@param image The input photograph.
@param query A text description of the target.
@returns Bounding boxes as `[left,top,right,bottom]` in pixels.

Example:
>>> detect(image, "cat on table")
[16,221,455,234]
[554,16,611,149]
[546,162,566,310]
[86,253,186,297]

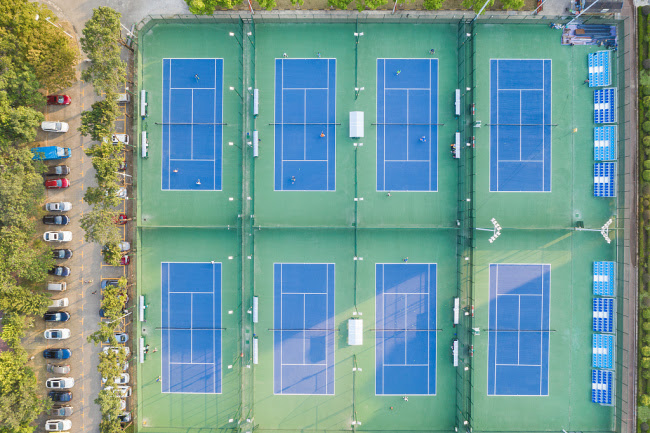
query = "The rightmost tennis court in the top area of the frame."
[474,23,616,228]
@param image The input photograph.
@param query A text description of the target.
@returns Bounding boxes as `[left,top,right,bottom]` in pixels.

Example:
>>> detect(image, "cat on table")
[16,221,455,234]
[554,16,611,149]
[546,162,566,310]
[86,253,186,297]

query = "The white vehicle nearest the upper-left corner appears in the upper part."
[41,119,71,133]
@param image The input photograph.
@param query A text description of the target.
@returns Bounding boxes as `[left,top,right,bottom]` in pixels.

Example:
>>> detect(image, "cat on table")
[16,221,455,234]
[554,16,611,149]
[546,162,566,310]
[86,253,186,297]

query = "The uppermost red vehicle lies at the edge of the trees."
[46,94,74,106]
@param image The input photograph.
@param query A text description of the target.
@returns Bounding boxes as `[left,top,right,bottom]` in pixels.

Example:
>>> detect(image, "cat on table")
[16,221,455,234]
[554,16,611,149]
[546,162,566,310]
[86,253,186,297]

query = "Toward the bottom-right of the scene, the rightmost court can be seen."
[474,228,616,427]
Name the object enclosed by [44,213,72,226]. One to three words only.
vehicle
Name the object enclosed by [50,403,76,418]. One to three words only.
car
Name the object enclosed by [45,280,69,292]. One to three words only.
vehicle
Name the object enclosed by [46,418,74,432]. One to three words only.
car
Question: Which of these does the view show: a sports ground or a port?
sports ground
